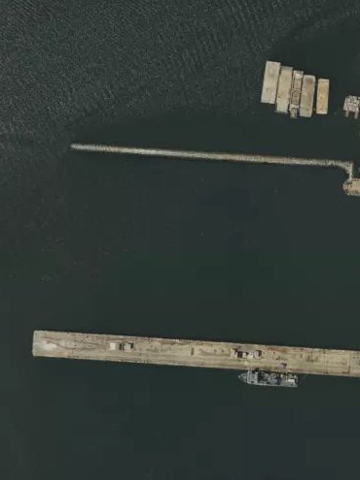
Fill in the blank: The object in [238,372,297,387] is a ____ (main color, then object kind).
gray ship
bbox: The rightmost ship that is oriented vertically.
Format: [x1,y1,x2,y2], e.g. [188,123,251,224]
[316,78,329,114]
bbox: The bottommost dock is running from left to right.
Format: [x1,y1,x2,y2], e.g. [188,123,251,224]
[33,330,360,378]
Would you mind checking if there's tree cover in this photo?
No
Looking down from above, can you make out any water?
Yes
